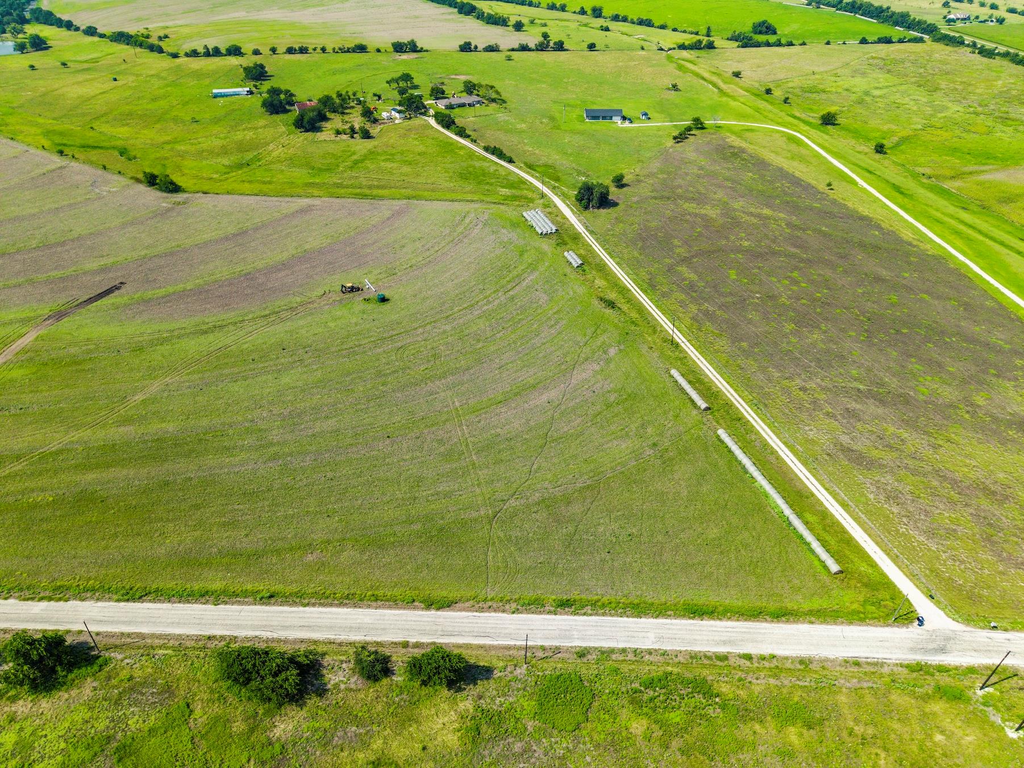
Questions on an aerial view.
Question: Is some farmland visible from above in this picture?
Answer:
Yes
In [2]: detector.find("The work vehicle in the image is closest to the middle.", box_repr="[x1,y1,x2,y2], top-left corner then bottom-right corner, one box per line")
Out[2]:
[339,281,368,294]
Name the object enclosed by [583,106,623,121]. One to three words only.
house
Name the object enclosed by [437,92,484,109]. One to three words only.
house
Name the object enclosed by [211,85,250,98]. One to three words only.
barn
